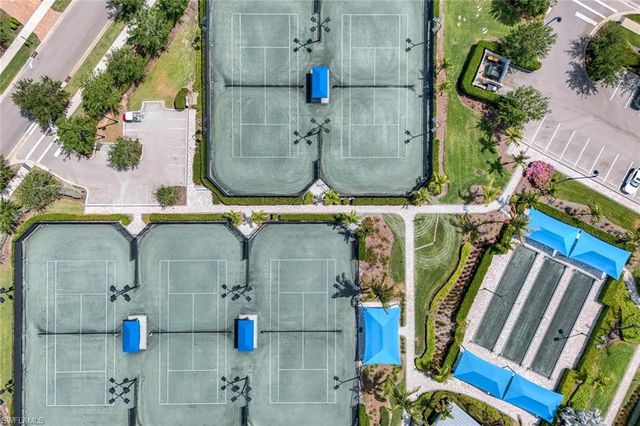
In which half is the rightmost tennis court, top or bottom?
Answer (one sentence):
It is in the top half that the rightmost tennis court appears.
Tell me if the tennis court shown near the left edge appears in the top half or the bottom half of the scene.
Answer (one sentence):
Seen from above, the tennis court shown near the left edge lies in the bottom half of the view.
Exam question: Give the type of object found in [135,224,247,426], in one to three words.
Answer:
tennis court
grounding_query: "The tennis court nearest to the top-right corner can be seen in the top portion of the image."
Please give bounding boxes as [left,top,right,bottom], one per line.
[319,0,429,195]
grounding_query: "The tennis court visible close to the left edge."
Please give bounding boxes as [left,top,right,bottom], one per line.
[23,224,135,426]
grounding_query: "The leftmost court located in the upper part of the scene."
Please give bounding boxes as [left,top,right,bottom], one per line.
[210,0,319,194]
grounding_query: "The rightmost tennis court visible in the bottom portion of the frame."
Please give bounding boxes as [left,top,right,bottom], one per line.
[247,224,358,426]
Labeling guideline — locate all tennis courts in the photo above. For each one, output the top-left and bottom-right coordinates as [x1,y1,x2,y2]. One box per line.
[319,0,429,195]
[23,224,135,426]
[135,224,247,426]
[247,224,358,426]
[210,0,319,194]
